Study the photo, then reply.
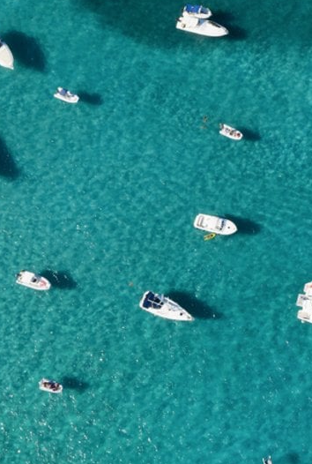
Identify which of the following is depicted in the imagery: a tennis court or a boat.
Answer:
boat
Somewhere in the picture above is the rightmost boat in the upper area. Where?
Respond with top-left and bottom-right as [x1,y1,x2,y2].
[220,125,243,138]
